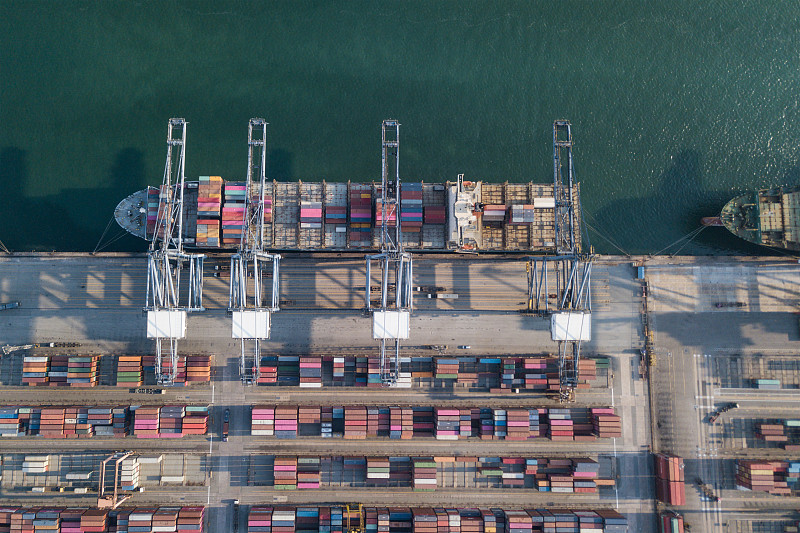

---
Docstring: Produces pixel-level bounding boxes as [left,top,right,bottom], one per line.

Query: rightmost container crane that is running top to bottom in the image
[519,118,593,385]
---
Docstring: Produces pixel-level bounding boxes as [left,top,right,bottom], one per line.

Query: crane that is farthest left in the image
[98,452,137,510]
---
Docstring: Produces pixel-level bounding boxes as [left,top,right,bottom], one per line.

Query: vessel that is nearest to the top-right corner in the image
[699,184,800,253]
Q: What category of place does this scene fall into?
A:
port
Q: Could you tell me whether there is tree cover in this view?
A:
No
